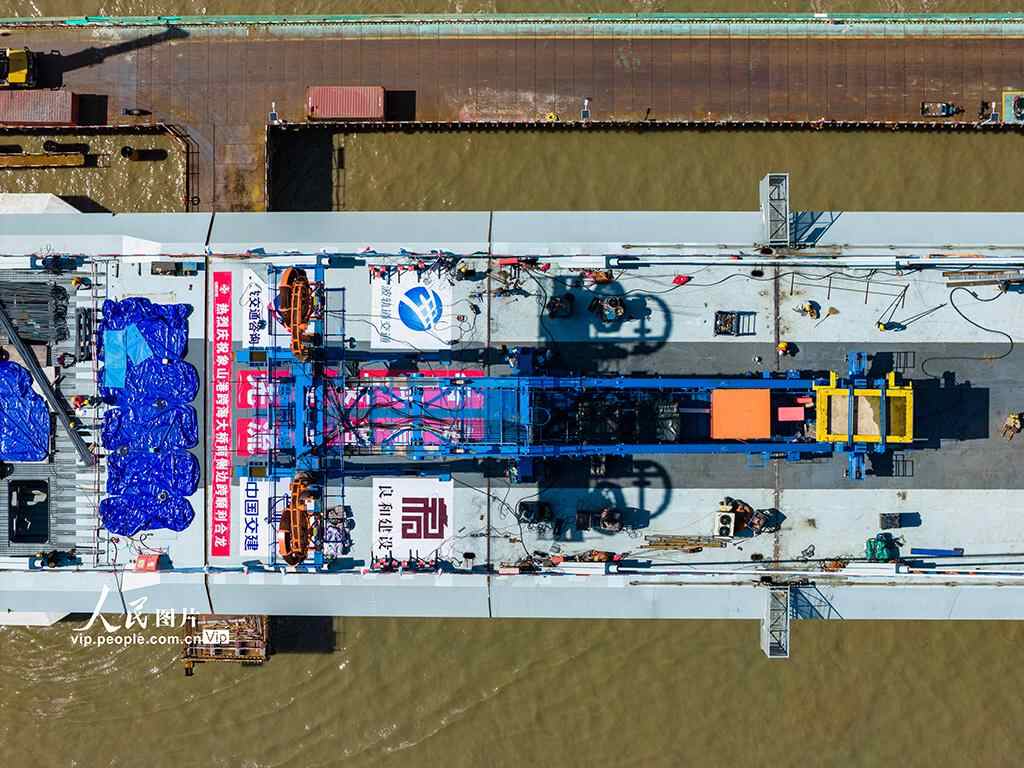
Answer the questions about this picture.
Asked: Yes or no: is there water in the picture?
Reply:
Yes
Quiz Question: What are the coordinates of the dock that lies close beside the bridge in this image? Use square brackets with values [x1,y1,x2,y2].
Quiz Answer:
[0,13,1024,212]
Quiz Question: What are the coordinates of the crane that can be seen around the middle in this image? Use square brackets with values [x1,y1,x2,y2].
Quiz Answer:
[212,263,913,570]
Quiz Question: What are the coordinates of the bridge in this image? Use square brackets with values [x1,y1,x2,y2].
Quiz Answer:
[0,211,1024,618]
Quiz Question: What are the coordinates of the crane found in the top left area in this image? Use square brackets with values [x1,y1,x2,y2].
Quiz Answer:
[0,48,46,91]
